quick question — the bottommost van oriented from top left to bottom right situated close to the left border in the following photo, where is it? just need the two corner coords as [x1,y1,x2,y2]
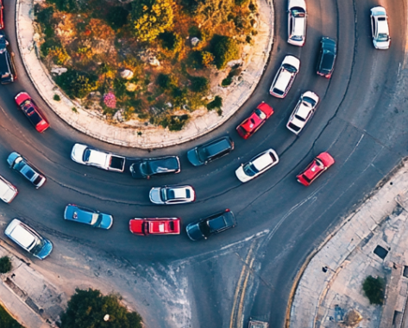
[2,217,54,260]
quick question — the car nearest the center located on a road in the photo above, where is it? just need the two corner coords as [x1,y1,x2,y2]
[185,134,236,167]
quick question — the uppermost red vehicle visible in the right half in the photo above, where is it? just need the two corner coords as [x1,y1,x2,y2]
[232,101,276,139]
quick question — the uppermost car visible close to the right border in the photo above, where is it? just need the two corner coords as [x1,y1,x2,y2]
[367,5,392,51]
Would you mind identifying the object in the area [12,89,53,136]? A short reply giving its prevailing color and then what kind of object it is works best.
red car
